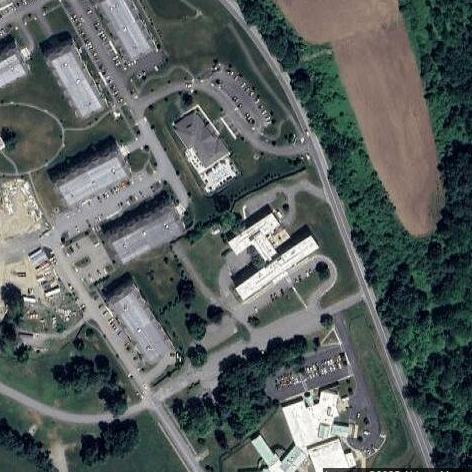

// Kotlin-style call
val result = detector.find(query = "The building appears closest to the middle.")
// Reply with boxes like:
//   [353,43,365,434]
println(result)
[229,212,280,261]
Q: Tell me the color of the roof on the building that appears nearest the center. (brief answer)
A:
white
